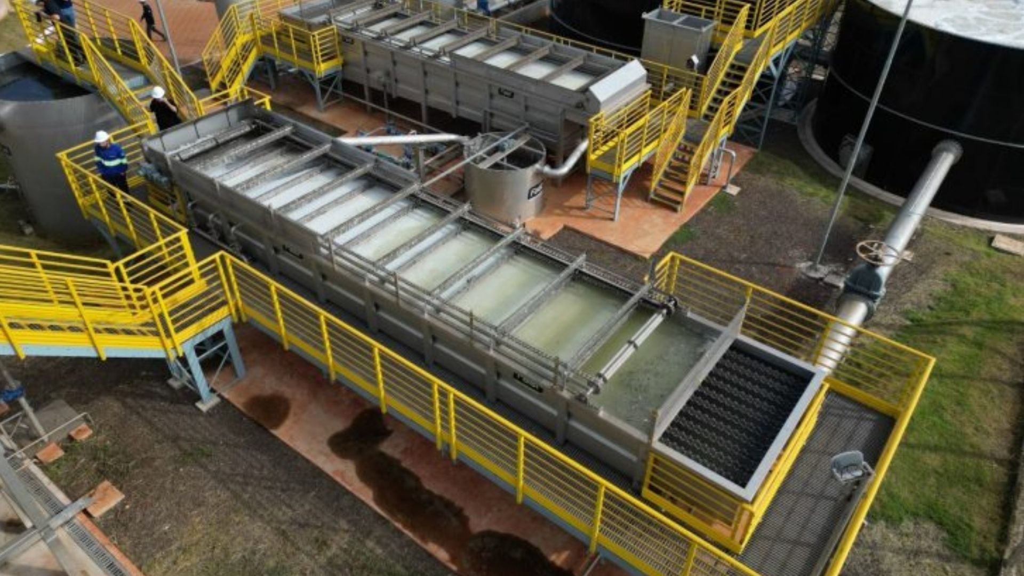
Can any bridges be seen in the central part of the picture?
No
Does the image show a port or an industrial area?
industrial area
